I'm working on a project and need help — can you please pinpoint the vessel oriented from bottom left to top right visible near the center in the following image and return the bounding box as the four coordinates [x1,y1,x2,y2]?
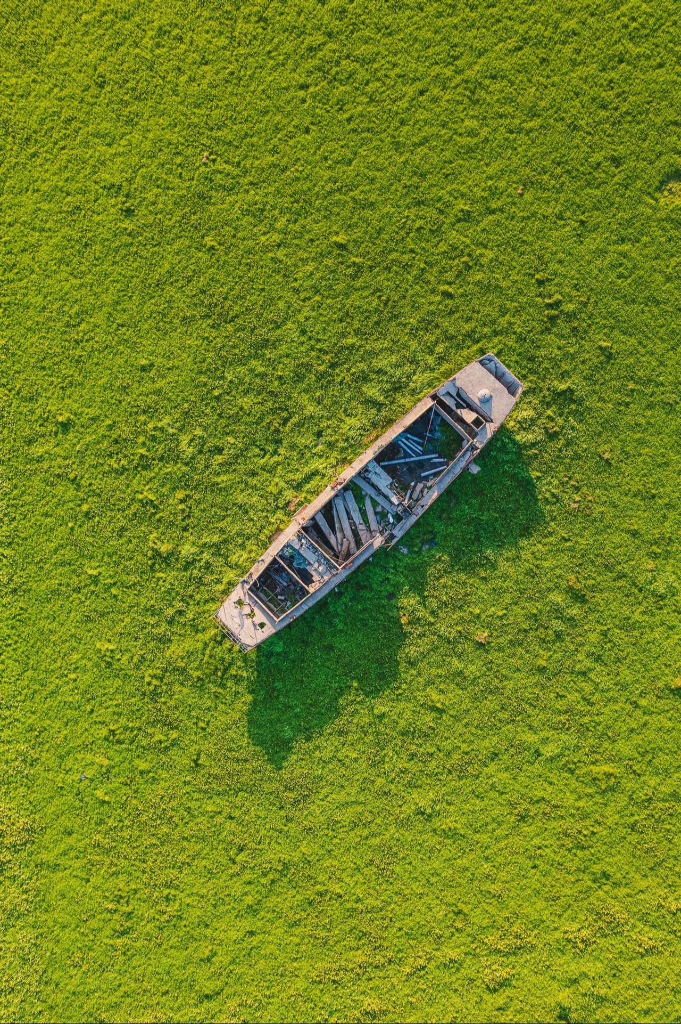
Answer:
[213,354,523,653]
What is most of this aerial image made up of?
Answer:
grass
